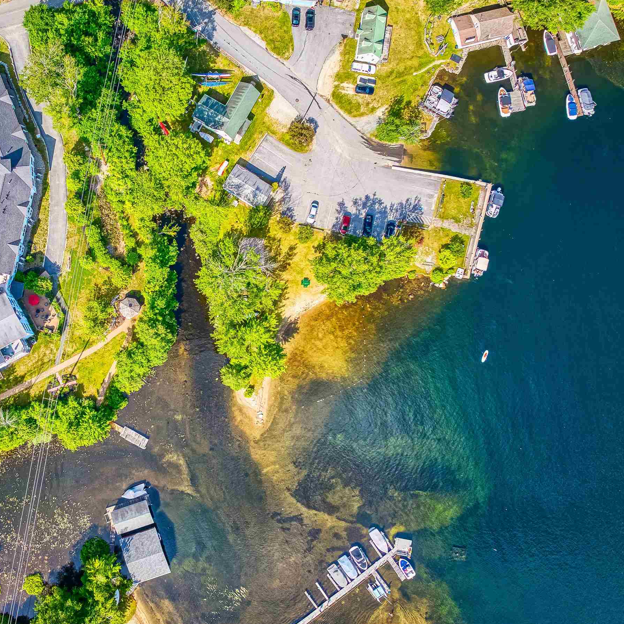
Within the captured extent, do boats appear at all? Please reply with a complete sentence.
Yes, this view includes a boat.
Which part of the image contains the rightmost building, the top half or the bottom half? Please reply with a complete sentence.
The top half of the photo is where the rightmost building is.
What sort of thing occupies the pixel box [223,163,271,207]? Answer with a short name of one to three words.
shed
